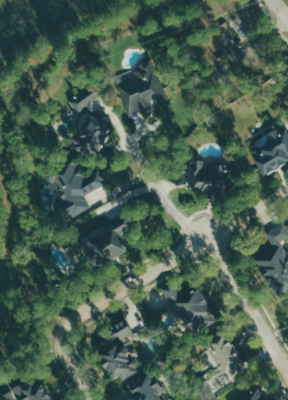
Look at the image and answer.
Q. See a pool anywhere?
Yes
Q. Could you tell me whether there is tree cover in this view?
Yes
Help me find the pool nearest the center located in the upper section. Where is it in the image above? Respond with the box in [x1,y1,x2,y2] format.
[198,144,224,160]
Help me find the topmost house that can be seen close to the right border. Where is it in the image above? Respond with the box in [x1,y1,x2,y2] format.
[254,126,288,177]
